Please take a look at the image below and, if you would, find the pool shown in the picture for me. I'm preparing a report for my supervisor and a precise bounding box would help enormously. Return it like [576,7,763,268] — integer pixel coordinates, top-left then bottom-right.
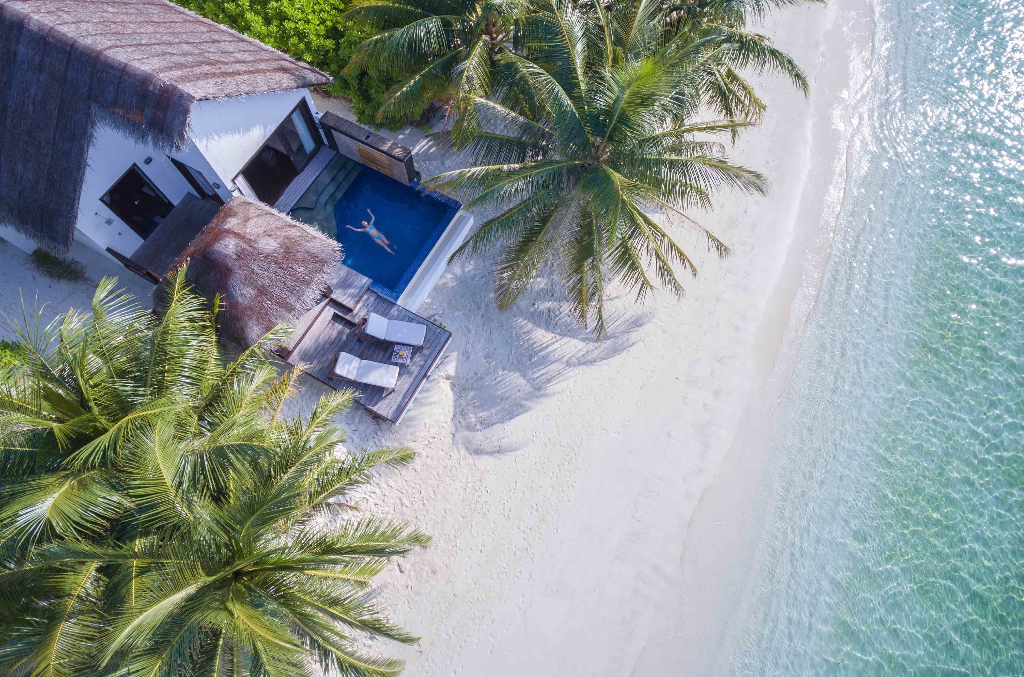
[293,150,480,316]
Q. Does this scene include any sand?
Yes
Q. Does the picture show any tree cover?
Yes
